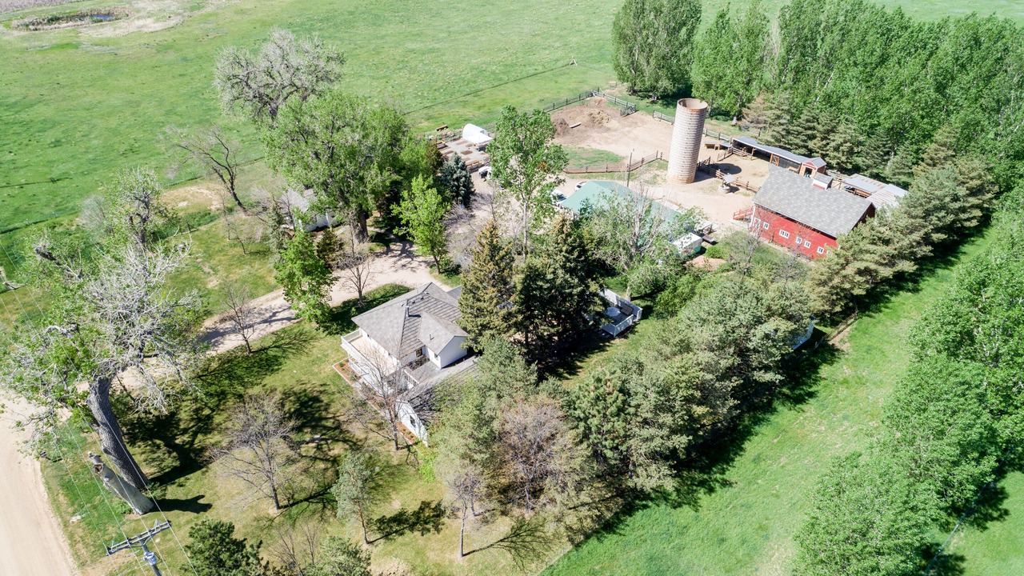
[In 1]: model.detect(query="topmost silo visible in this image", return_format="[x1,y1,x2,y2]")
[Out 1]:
[667,96,709,184]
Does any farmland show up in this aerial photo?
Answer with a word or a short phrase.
Yes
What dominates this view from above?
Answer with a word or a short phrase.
trees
